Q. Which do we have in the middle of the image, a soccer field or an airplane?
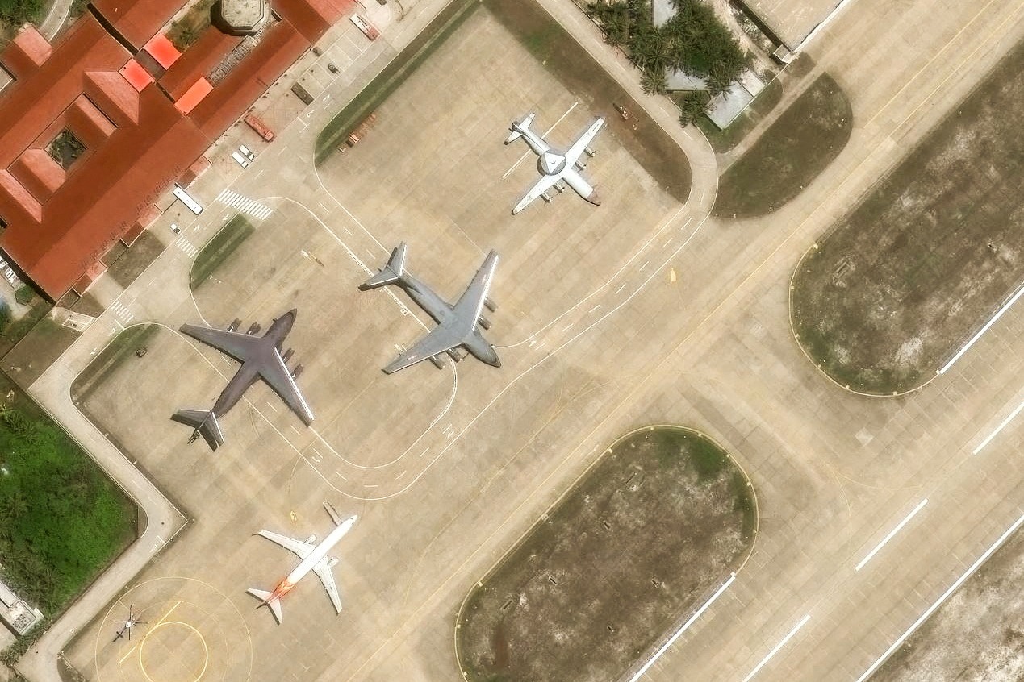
airplane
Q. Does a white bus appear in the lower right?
No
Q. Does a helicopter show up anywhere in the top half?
No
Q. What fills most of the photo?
paved ground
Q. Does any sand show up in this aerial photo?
No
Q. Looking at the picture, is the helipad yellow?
Yes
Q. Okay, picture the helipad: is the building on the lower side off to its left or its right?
on the left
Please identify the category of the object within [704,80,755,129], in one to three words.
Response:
shed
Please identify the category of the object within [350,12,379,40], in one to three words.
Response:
bus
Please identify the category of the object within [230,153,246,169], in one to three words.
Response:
vehicle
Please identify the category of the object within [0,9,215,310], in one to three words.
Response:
building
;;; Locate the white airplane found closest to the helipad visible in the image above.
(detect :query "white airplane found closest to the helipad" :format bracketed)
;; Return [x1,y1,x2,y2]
[247,516,358,623]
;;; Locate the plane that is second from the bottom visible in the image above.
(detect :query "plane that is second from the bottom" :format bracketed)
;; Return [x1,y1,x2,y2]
[178,310,313,446]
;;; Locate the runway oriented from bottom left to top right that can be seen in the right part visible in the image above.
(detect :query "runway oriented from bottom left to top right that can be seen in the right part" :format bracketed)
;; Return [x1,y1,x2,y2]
[614,284,1024,682]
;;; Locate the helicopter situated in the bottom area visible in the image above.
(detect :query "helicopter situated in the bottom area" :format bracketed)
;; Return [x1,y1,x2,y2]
[112,605,148,642]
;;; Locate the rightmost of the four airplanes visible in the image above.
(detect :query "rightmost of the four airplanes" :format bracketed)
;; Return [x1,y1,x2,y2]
[502,111,603,214]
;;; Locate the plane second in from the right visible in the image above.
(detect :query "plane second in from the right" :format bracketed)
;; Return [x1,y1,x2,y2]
[365,241,501,375]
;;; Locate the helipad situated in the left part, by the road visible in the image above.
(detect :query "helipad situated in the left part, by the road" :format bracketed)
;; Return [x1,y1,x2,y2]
[96,578,251,682]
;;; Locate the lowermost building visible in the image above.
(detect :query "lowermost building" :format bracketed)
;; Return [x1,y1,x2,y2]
[0,579,45,635]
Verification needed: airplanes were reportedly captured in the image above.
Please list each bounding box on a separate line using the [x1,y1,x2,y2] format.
[247,516,358,623]
[365,241,501,375]
[178,310,313,446]
[502,111,603,214]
